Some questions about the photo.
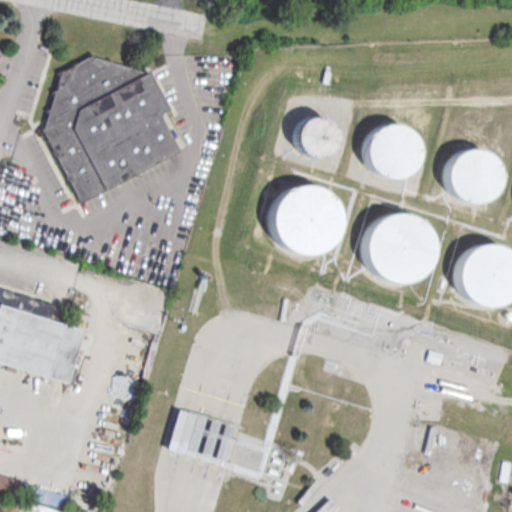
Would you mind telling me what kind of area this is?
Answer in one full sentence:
The picture captures an industrial area.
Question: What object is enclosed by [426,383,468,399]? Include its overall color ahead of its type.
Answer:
white vehicle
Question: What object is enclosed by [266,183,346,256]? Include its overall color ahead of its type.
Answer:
white storage tank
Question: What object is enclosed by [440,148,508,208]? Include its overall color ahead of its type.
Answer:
white storage tank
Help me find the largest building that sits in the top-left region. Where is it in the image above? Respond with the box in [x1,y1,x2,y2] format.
[44,57,181,203]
